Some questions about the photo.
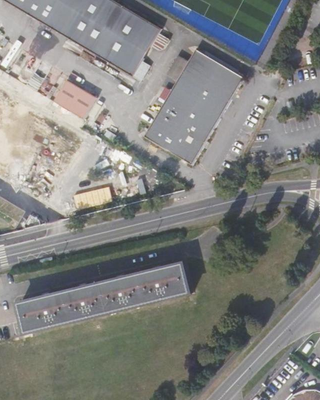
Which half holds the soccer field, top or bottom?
top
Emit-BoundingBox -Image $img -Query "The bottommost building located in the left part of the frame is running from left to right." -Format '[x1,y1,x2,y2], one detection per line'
[14,260,191,334]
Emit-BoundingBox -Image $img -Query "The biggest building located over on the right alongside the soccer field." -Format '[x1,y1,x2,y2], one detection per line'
[142,49,246,168]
